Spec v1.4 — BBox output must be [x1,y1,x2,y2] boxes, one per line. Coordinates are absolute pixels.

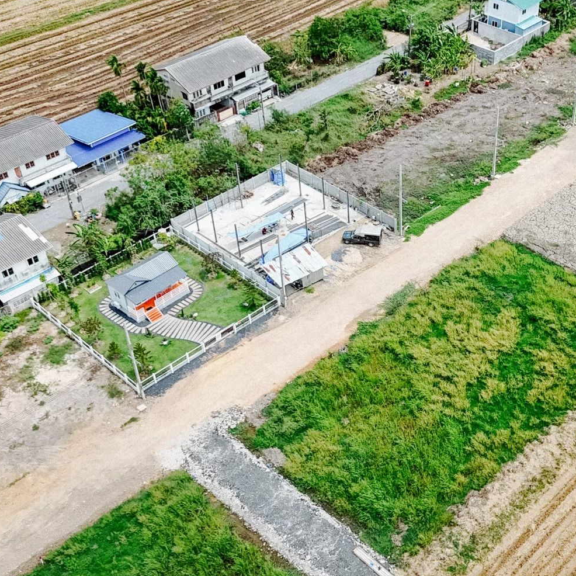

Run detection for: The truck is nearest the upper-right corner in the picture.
[338,224,382,247]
